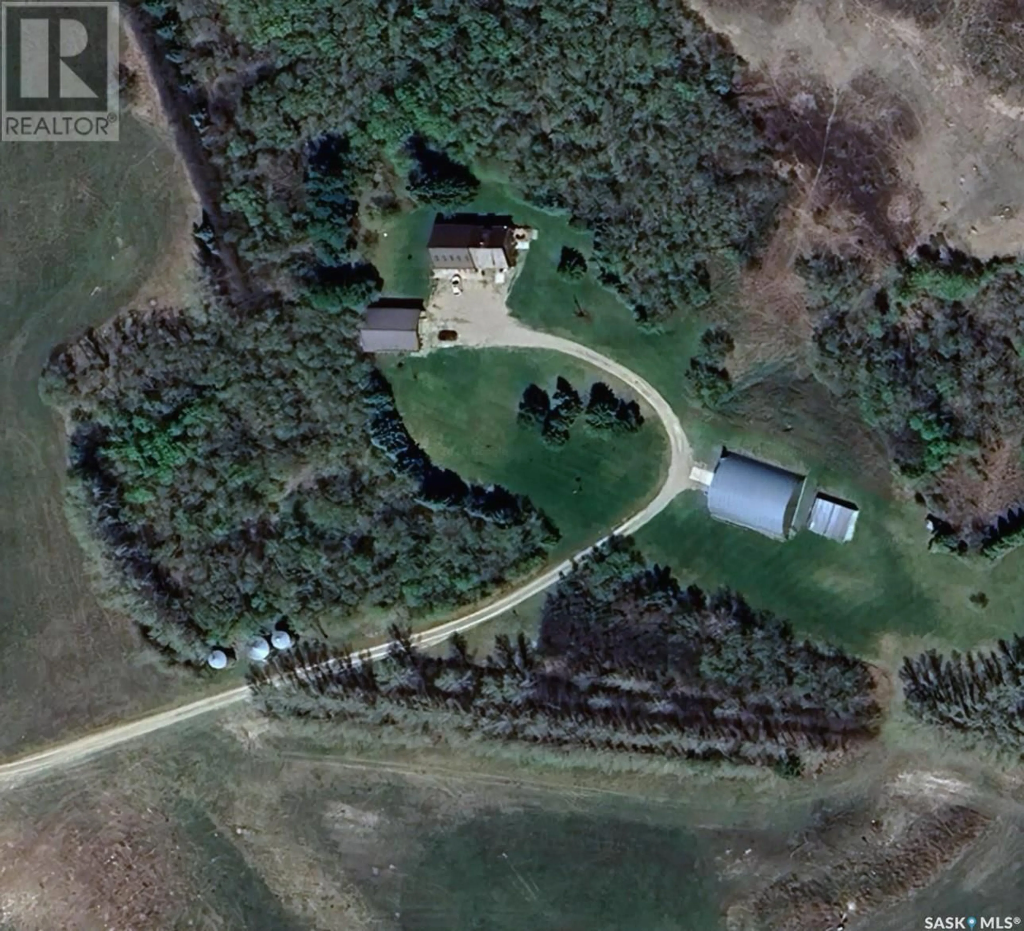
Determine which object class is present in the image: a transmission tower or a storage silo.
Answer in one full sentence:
I can see a storage silo in this picture.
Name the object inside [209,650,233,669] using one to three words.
silo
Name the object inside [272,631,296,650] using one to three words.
silo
